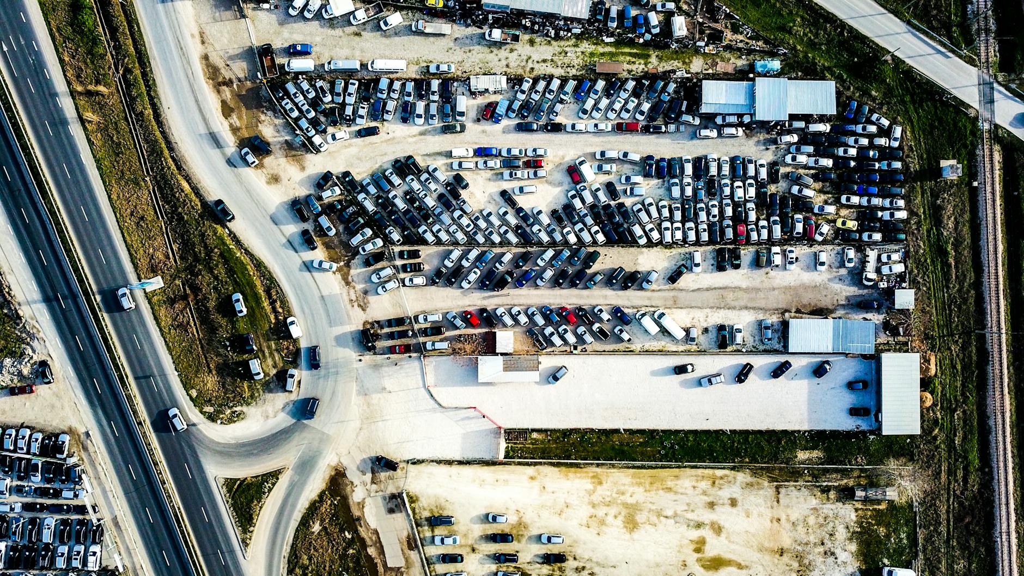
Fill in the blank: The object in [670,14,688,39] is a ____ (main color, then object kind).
white camper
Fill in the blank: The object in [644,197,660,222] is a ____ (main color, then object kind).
white car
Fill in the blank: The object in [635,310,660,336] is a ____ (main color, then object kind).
white vehicle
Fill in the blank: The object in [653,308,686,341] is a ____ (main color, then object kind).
white van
